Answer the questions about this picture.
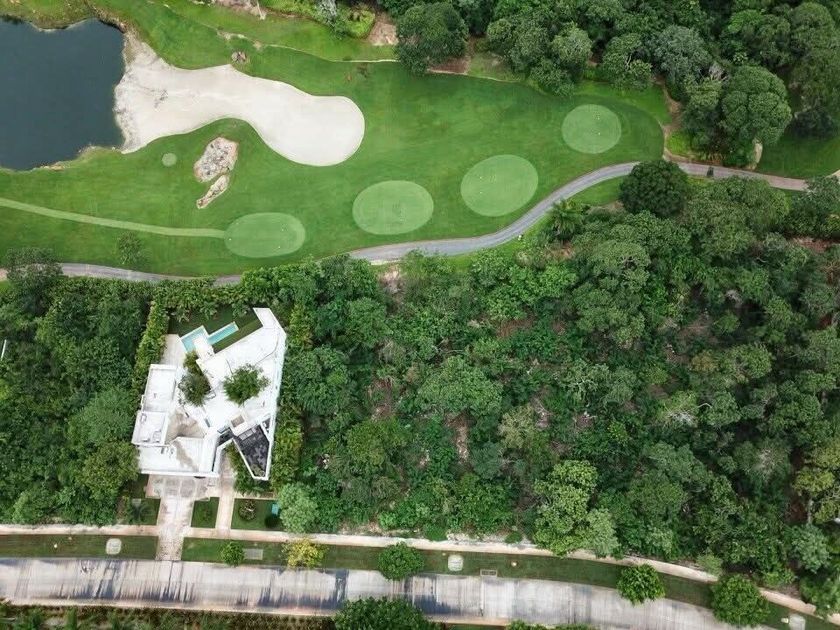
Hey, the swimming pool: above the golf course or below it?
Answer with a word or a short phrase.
below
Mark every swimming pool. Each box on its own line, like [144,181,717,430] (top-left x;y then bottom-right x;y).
[180,322,238,357]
